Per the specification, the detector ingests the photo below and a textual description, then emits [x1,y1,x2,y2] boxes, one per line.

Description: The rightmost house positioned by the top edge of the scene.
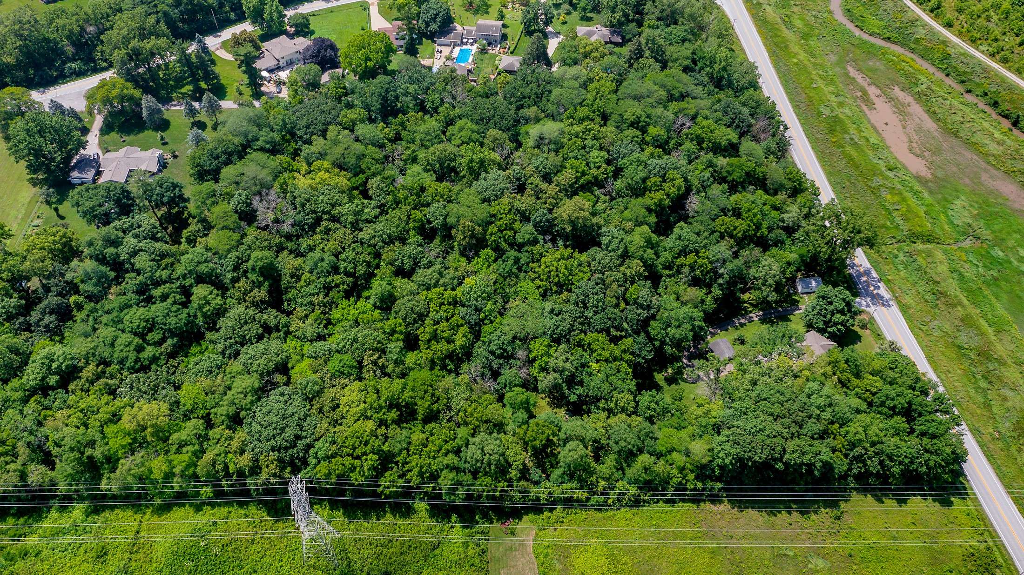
[577,23,625,52]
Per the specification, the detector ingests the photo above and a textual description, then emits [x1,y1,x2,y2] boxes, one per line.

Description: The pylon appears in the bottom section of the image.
[285,476,340,567]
